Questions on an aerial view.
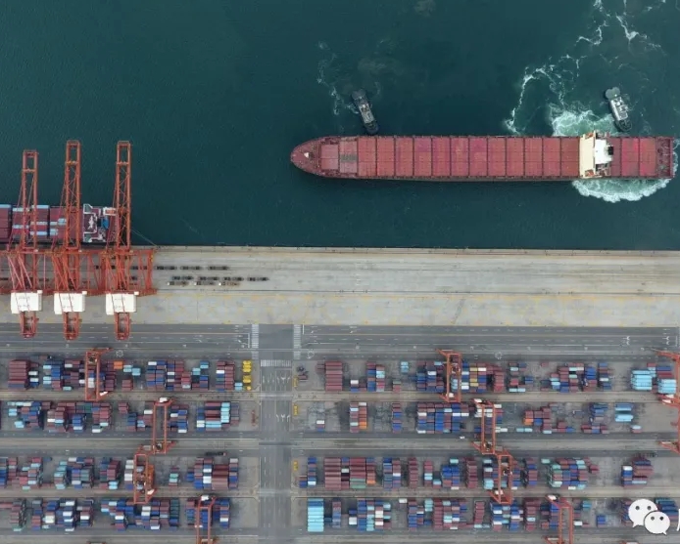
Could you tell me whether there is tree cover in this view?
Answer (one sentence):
No, no tree cover is visible.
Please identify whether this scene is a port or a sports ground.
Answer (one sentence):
This image shows a port.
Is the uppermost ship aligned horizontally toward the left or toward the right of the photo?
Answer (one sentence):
The uppermost ship aligned horizontally sits on the right side.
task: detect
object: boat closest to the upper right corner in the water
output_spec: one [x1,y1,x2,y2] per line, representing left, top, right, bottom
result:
[602,87,630,132]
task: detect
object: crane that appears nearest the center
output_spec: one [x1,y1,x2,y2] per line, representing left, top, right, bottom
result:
[435,348,462,404]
